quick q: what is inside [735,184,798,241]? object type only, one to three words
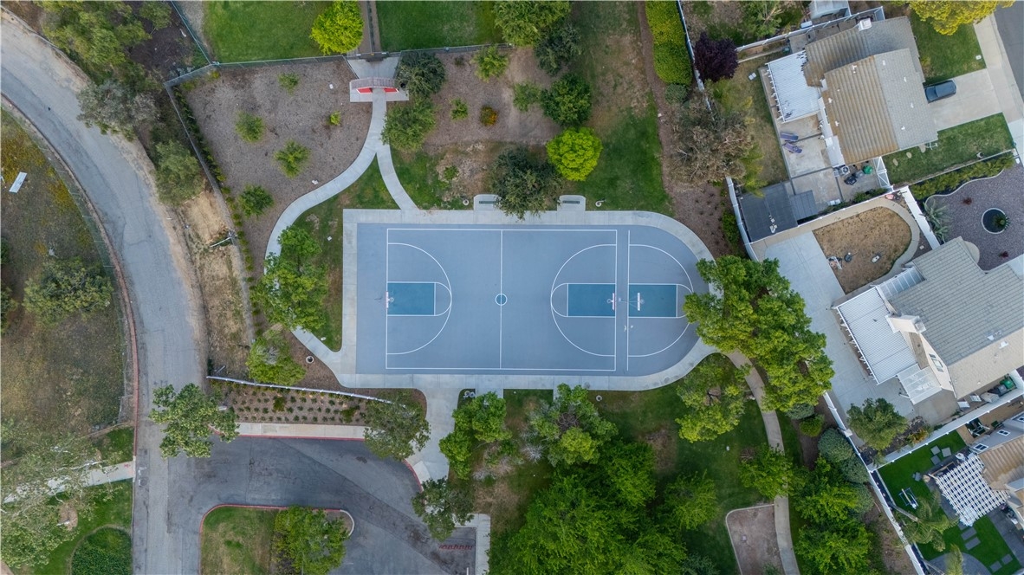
shed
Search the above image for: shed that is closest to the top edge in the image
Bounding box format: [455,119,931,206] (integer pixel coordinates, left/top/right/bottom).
[795,0,848,29]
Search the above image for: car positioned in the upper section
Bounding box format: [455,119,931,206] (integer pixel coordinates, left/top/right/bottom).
[923,79,959,103]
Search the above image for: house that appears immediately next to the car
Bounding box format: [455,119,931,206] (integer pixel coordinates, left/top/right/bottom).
[805,16,938,166]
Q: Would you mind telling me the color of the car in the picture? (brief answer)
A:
blue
